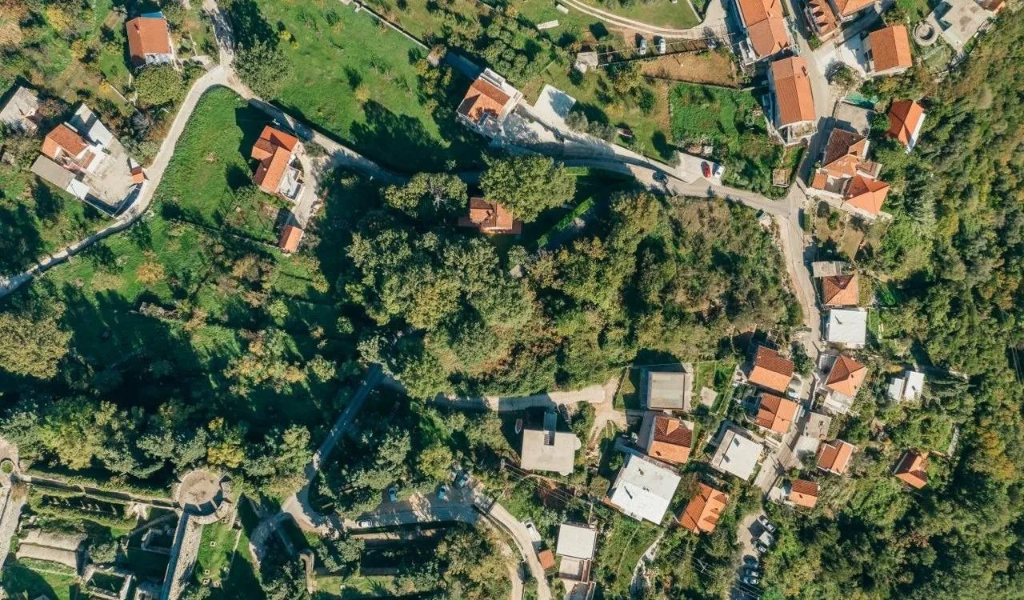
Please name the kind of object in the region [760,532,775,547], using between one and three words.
vehicle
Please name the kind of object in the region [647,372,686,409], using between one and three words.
building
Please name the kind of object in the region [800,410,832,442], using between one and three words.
house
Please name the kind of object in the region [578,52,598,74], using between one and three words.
shed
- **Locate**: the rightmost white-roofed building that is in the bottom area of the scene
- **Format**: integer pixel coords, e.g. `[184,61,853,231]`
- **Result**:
[882,370,925,402]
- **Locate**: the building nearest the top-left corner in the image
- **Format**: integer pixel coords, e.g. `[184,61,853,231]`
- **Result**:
[0,86,51,132]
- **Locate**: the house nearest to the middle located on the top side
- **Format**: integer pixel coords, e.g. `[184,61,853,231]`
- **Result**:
[458,197,522,235]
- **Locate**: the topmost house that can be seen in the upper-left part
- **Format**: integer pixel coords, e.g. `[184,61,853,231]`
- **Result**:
[126,10,178,69]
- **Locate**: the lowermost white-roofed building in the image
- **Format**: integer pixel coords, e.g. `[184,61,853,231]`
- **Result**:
[557,520,595,600]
